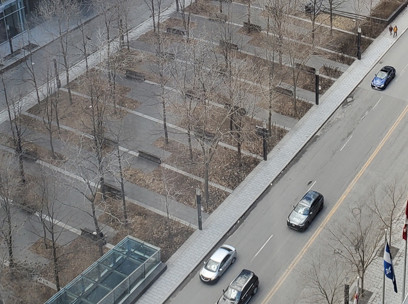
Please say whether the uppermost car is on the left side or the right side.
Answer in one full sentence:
It is on the right.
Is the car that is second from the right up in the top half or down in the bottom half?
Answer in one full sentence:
The car that is second from the right is in the bottom half of the image.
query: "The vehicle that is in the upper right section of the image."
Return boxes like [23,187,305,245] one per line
[368,63,394,87]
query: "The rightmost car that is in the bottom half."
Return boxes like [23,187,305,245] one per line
[285,191,324,232]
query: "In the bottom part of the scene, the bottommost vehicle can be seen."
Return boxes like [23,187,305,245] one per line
[215,267,261,304]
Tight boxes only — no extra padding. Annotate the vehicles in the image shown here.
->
[285,191,324,232]
[368,63,394,87]
[215,267,261,304]
[194,240,239,286]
